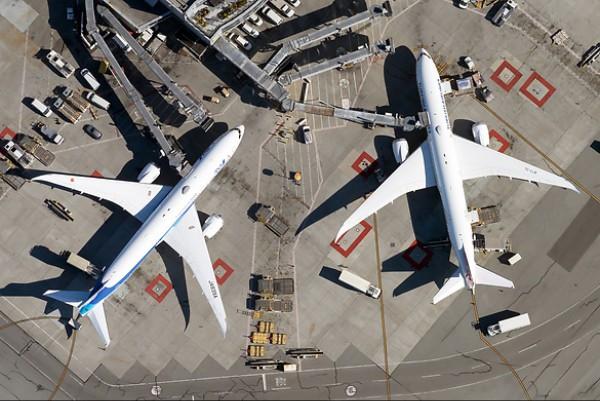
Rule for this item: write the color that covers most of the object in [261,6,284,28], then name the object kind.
white vehicle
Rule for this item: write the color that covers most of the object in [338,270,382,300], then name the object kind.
white truck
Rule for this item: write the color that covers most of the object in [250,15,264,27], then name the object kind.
white vehicle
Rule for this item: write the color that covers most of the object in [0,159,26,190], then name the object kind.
gray work vehicle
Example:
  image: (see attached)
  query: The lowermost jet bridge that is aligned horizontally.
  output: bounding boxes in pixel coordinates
[279,96,425,131]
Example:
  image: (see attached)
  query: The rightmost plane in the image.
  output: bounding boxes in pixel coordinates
[335,49,582,308]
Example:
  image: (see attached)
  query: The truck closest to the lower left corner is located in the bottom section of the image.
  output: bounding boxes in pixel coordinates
[63,254,97,279]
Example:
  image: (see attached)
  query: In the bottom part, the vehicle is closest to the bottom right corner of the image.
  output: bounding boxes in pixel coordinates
[486,313,531,337]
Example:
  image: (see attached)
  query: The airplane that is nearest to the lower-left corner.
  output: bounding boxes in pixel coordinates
[32,125,244,351]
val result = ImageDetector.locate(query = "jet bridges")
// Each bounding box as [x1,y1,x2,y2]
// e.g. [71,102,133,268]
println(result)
[93,0,214,130]
[261,0,390,75]
[279,96,425,131]
[83,0,193,174]
[275,38,393,89]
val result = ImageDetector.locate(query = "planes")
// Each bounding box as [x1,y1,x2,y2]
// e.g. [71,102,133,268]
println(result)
[32,125,244,351]
[335,49,582,308]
